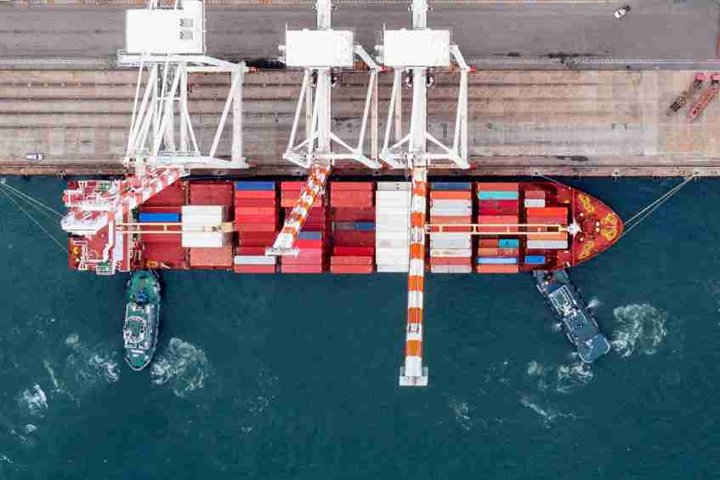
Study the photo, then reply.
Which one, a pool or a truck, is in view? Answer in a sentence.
Visible in the photo is a truck.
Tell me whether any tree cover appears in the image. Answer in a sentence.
No, no tree cover is visible.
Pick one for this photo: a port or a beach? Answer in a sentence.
What you see here is a port.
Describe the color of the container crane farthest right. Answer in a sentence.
The container crane farthest right looks white in the image.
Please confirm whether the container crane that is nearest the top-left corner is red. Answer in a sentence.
No, the container crane that is nearest the top-left corner is white.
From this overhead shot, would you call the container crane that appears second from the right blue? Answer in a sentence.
No, the container crane that appears second from the right is actually white.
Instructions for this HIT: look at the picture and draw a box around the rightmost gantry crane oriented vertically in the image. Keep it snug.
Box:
[378,0,484,384]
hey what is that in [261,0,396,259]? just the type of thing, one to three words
container crane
